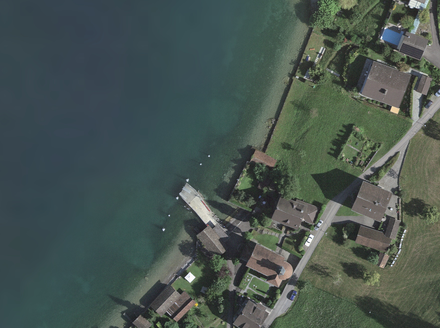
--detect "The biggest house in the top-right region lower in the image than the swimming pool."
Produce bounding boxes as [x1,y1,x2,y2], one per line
[356,58,411,114]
